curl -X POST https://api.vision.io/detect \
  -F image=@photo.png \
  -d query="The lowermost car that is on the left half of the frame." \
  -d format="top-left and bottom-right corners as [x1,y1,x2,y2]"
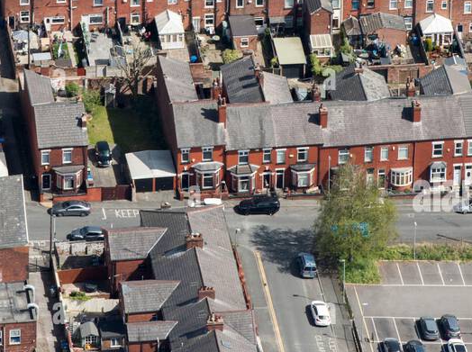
[67,225,107,242]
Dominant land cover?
buildings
